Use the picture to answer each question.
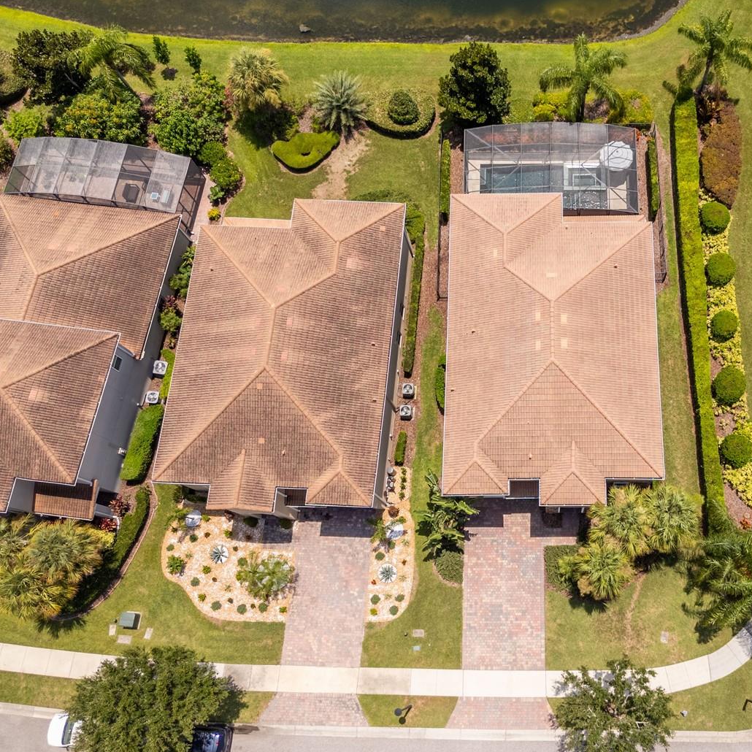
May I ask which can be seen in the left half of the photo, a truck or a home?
home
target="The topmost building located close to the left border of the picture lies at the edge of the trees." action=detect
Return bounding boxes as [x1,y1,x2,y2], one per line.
[0,194,192,524]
